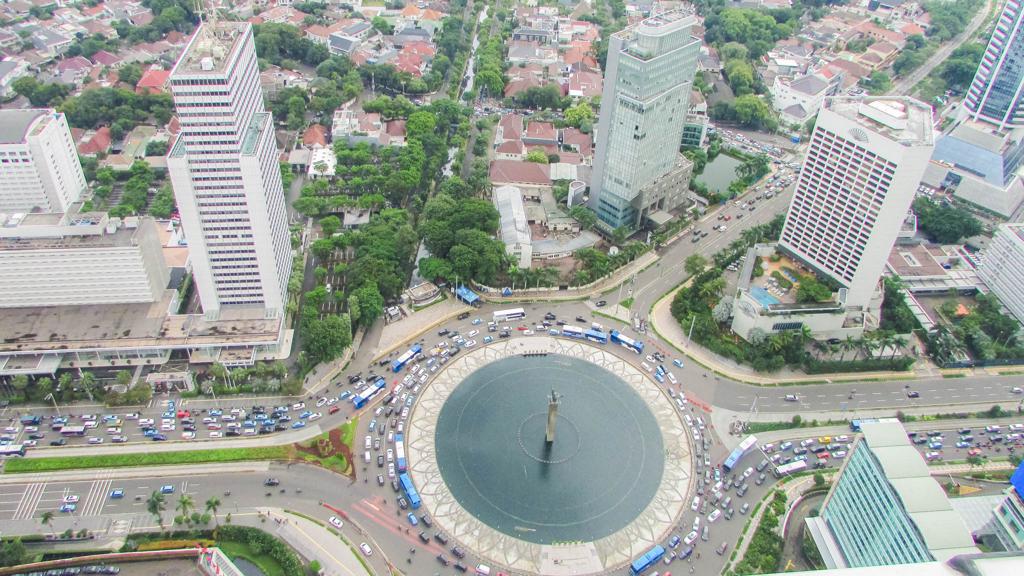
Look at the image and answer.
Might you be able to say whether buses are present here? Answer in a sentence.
Yes, the frame does contain a bus.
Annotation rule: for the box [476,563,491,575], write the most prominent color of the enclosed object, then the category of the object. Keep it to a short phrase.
white vehicle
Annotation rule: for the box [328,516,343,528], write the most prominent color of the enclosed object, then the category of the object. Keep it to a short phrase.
white vehicle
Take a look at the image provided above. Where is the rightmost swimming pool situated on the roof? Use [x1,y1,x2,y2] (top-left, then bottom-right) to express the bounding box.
[751,286,780,308]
